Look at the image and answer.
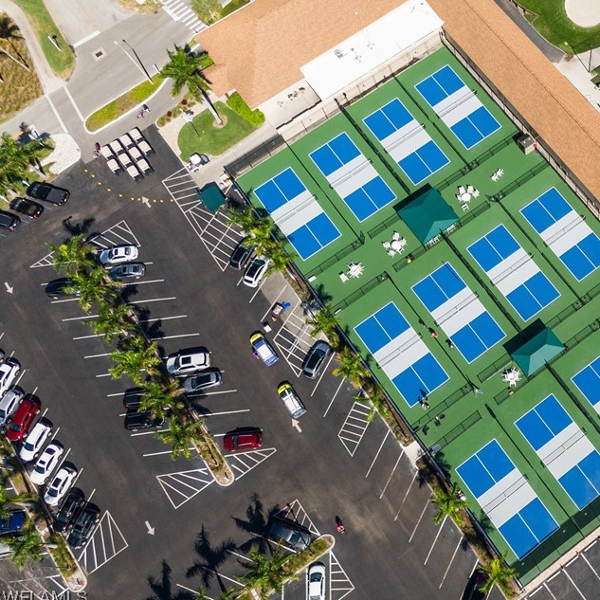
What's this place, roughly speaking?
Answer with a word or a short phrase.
sports ground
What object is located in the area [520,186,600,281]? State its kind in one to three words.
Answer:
sports court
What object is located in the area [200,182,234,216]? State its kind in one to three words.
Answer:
tent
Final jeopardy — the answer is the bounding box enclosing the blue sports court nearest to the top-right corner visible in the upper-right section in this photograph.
[415,65,501,149]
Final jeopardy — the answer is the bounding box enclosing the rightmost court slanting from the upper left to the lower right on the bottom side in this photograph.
[515,394,600,510]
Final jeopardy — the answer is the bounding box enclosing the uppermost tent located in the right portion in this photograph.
[399,187,462,250]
